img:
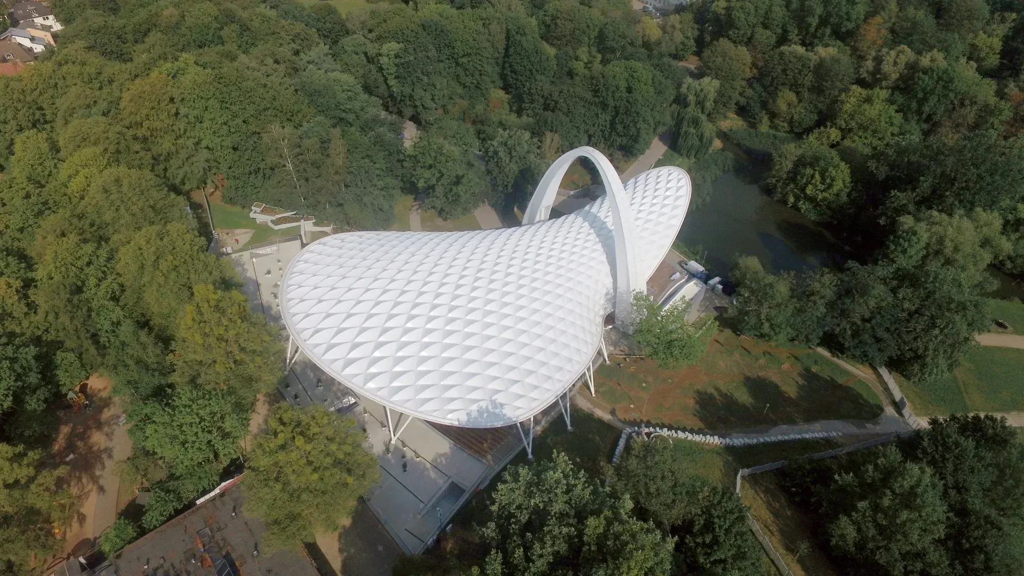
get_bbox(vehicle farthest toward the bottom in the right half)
[681,261,708,279]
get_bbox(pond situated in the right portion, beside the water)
[679,125,926,296]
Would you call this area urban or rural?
rural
